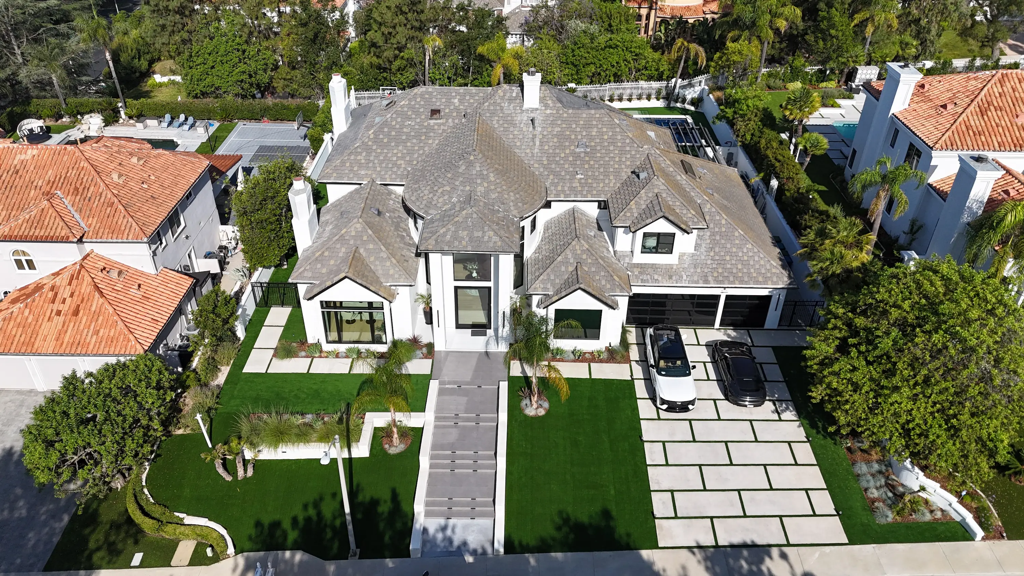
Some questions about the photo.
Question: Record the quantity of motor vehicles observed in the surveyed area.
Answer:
2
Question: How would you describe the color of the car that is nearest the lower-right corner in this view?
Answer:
black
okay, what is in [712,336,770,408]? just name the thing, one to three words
car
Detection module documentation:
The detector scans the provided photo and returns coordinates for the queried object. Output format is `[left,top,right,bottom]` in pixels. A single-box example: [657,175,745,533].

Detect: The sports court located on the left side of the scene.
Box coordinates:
[214,121,309,189]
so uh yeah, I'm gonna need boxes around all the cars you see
[712,336,770,408]
[645,327,699,408]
